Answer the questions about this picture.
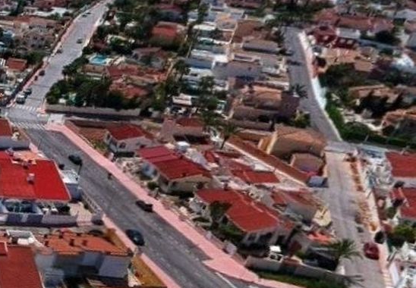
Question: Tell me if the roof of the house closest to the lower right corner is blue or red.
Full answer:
The roof of the house closest to the lower right corner looks red in the image.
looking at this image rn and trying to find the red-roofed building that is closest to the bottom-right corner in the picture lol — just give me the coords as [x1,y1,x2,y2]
[363,183,416,236]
